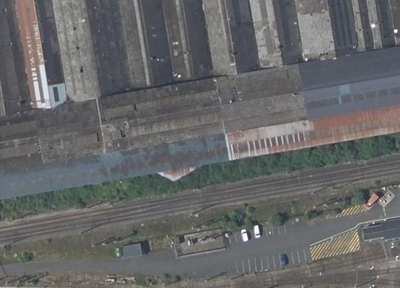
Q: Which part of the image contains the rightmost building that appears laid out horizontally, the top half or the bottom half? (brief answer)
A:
bottom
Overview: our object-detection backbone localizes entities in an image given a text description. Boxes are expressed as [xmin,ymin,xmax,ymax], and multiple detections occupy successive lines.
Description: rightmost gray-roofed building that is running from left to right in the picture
[362,218,400,240]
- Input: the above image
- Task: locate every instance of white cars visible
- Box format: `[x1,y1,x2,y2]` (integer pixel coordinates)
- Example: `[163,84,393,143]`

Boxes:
[254,225,260,237]
[242,229,248,241]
